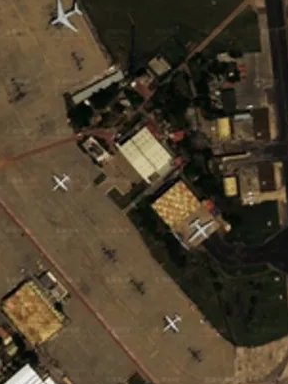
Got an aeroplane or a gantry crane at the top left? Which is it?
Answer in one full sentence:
The feature located at the top left is an aeroplane.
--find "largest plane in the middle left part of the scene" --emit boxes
[54,173,72,192]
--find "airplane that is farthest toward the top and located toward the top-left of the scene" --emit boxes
[52,0,87,31]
